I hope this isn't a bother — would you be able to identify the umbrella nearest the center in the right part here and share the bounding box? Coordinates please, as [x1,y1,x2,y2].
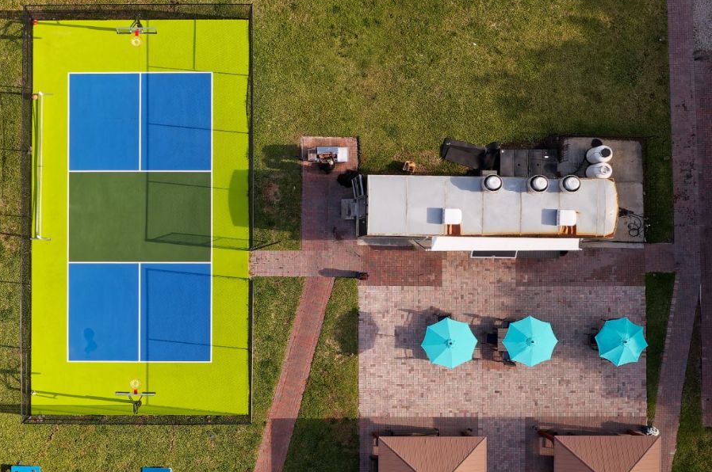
[419,313,478,371]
